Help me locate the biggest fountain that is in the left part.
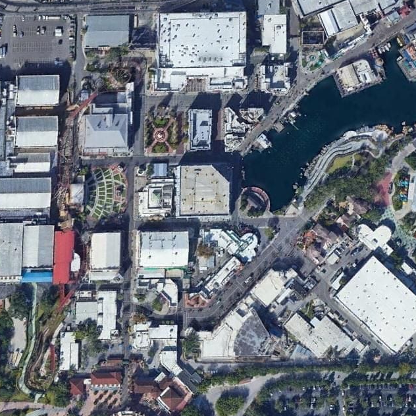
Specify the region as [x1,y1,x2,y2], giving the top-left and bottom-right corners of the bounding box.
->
[151,127,168,144]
